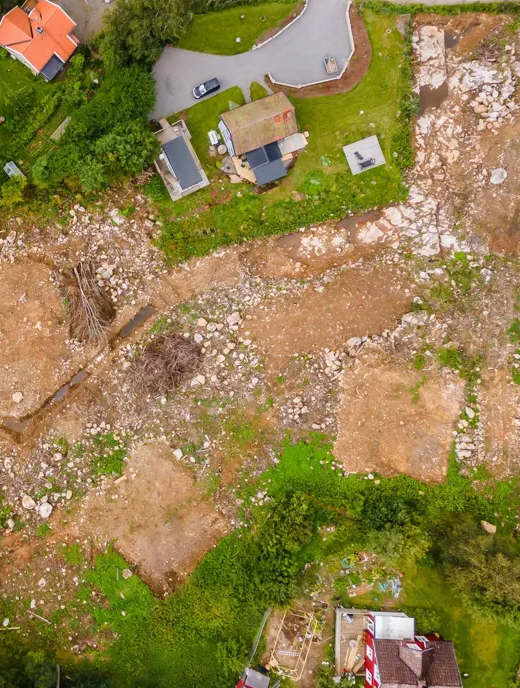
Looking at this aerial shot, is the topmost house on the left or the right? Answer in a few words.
left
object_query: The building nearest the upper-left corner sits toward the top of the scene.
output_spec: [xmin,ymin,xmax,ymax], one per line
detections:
[0,0,80,84]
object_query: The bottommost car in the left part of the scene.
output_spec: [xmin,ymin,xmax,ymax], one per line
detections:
[192,76,223,98]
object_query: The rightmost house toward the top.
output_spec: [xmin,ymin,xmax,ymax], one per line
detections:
[220,91,307,187]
